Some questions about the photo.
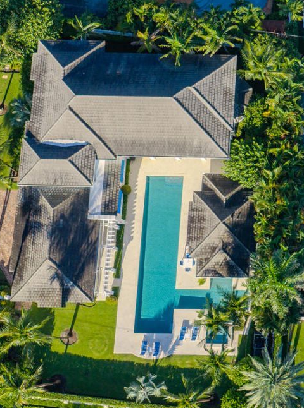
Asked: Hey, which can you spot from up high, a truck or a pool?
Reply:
pool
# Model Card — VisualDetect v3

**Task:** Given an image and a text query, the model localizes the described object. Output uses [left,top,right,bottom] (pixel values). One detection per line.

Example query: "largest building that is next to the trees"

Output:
[8,39,240,308]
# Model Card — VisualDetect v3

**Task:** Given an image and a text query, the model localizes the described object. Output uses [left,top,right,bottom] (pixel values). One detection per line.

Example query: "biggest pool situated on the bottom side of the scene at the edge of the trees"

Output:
[131,174,249,337]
